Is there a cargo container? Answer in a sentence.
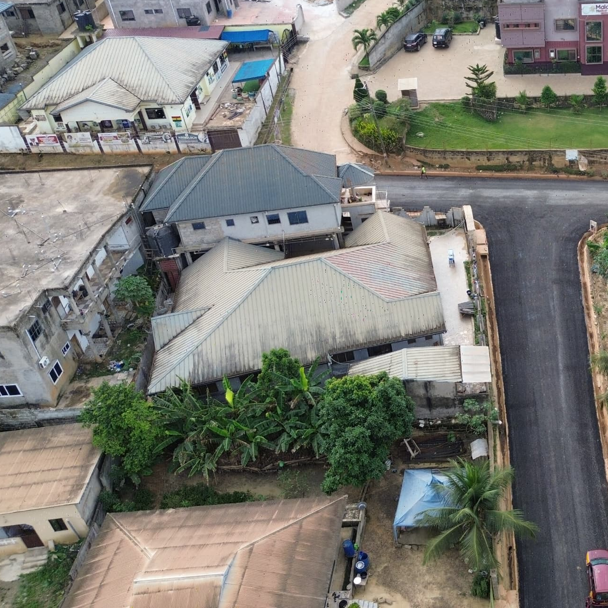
No, there appears to be no cargo container in this shot.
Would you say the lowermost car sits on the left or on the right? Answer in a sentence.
The lowermost car appears in the right half of the scene.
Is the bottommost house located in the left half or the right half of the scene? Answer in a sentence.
It is on the left.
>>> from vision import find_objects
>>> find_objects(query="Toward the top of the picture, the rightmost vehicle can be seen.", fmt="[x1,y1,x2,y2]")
[429,32,456,55]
